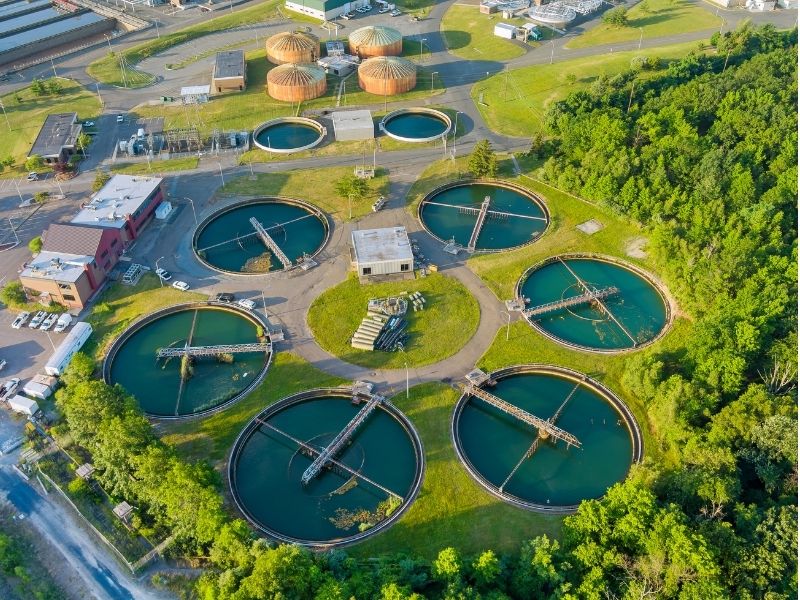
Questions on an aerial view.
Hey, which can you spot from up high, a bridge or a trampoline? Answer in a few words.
bridge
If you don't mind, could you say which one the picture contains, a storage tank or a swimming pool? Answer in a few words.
storage tank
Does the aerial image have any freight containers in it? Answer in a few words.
Yes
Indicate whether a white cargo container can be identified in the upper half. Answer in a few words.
No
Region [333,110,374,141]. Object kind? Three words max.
shed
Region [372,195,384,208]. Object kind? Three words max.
vehicle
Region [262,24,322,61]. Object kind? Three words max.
storage tank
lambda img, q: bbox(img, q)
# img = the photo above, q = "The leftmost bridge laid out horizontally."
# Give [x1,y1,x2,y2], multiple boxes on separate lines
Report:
[155,343,276,362]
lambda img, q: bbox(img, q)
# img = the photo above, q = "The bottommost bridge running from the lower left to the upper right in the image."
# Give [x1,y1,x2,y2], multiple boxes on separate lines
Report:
[300,391,388,488]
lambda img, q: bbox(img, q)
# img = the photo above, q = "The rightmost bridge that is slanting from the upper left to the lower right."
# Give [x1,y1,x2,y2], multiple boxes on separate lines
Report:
[467,377,581,455]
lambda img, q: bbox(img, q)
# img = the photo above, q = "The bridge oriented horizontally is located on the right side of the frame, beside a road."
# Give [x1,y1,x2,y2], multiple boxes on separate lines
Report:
[516,288,623,315]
